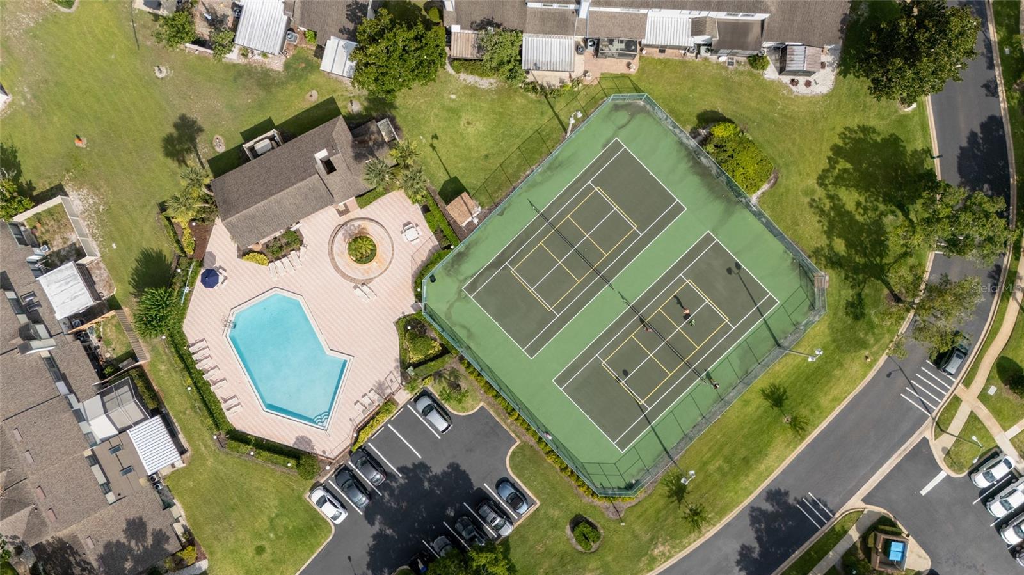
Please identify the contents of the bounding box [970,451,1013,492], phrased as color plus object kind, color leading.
white car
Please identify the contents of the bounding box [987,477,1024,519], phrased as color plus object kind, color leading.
white car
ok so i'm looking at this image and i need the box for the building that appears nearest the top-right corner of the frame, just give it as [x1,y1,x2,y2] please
[762,0,851,76]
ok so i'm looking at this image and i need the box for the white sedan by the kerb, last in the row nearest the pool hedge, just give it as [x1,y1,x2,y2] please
[309,484,350,525]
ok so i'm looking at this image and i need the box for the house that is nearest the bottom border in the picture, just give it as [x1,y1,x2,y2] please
[20,490,187,575]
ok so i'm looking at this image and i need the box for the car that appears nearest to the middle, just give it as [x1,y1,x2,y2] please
[414,392,453,433]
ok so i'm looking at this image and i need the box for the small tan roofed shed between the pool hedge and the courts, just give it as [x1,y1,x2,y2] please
[446,192,480,226]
